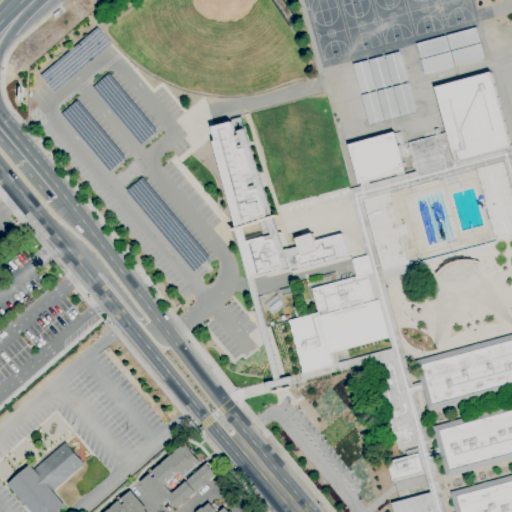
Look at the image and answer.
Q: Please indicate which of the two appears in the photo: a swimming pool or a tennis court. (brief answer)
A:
swimming pool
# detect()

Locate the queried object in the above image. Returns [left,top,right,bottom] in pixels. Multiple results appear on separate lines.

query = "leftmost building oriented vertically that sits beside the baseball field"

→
[218,118,266,222]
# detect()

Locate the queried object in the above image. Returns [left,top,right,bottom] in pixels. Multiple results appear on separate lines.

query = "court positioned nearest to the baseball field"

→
[308,0,351,60]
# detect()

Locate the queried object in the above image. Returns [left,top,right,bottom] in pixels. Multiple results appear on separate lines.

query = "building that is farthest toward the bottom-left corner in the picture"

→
[7,444,82,512]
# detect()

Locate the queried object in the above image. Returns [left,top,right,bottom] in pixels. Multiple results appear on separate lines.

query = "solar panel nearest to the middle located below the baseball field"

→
[130,177,208,270]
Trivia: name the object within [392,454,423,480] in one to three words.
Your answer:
building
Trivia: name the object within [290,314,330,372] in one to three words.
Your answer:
building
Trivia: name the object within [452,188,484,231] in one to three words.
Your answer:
swimming pool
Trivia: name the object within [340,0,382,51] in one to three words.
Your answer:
basketball court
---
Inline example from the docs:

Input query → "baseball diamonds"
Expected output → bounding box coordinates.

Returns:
[110,0,308,95]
